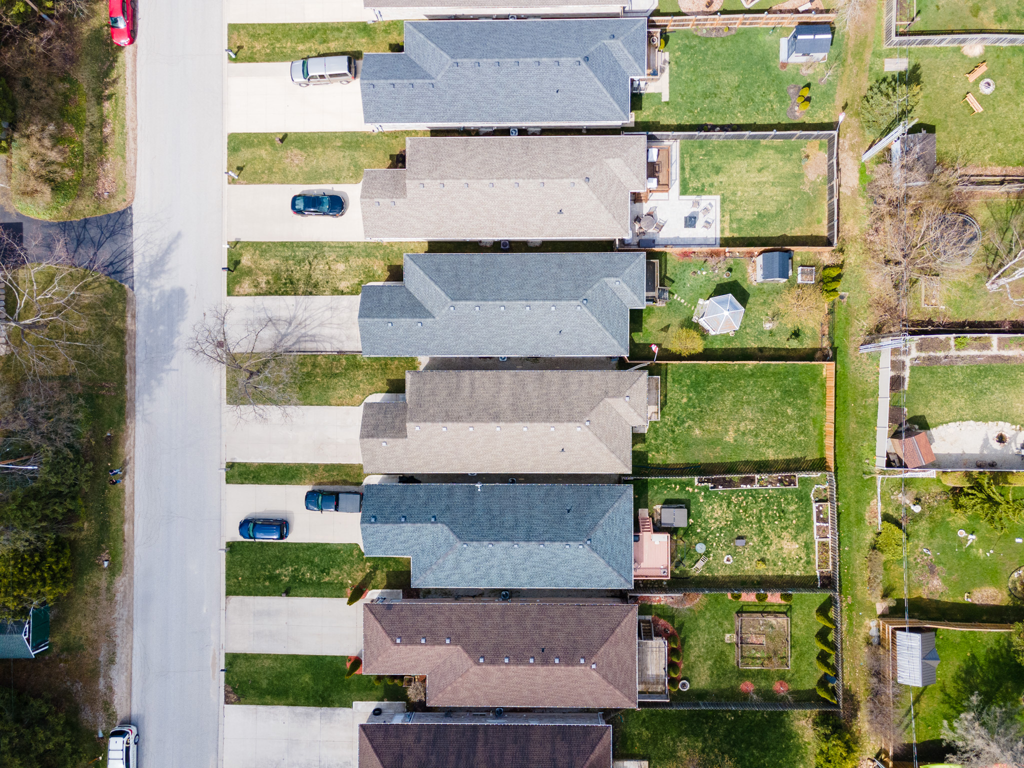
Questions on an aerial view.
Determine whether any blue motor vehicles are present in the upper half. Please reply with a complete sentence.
Yes, in the upper half there is a blue motor vehicle.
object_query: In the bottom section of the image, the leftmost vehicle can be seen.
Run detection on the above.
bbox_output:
[110,722,140,768]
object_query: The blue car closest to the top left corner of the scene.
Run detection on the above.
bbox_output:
[291,193,345,218]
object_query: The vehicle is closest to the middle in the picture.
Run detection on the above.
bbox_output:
[305,488,363,514]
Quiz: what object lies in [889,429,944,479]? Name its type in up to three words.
shed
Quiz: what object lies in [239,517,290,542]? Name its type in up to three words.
car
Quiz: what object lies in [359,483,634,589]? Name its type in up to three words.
house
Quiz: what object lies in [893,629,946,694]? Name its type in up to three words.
shed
